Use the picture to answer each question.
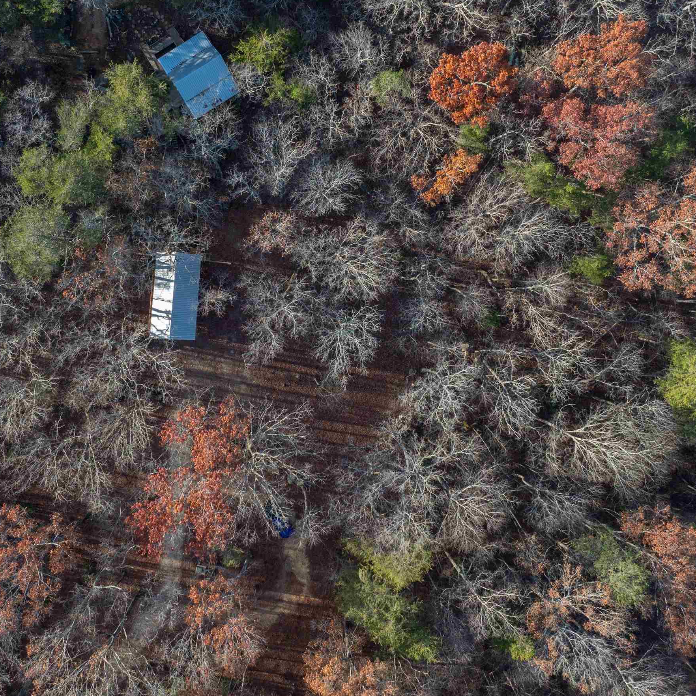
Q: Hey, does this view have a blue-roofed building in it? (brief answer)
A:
Yes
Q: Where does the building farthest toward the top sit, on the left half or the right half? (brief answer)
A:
left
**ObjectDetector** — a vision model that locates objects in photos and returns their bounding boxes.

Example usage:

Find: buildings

[140,21,239,120]
[149,251,202,340]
